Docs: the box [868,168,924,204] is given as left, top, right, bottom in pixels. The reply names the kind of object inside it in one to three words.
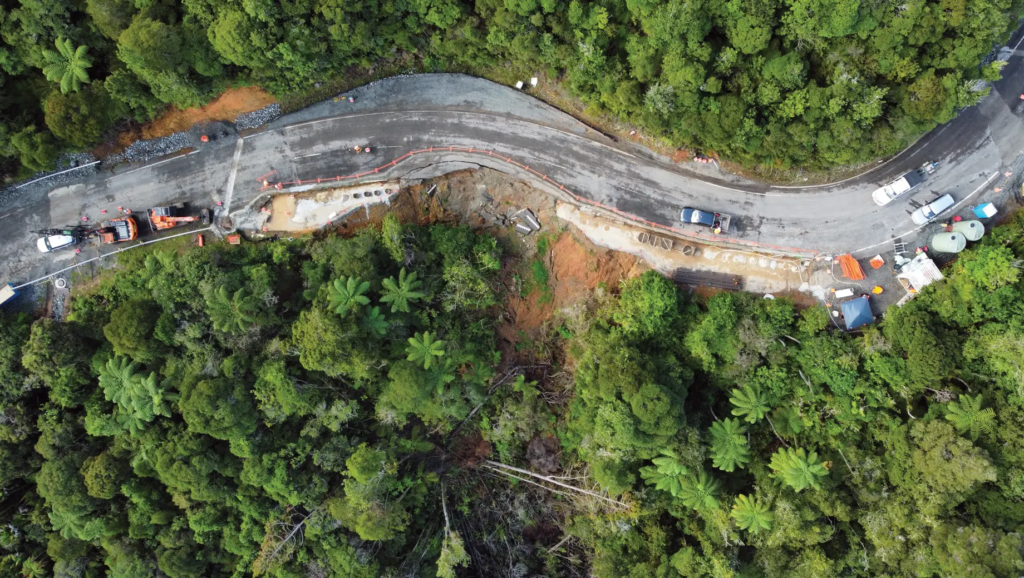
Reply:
truck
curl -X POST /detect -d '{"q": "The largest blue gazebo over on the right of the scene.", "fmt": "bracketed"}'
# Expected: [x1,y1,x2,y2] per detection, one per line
[840,296,874,329]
